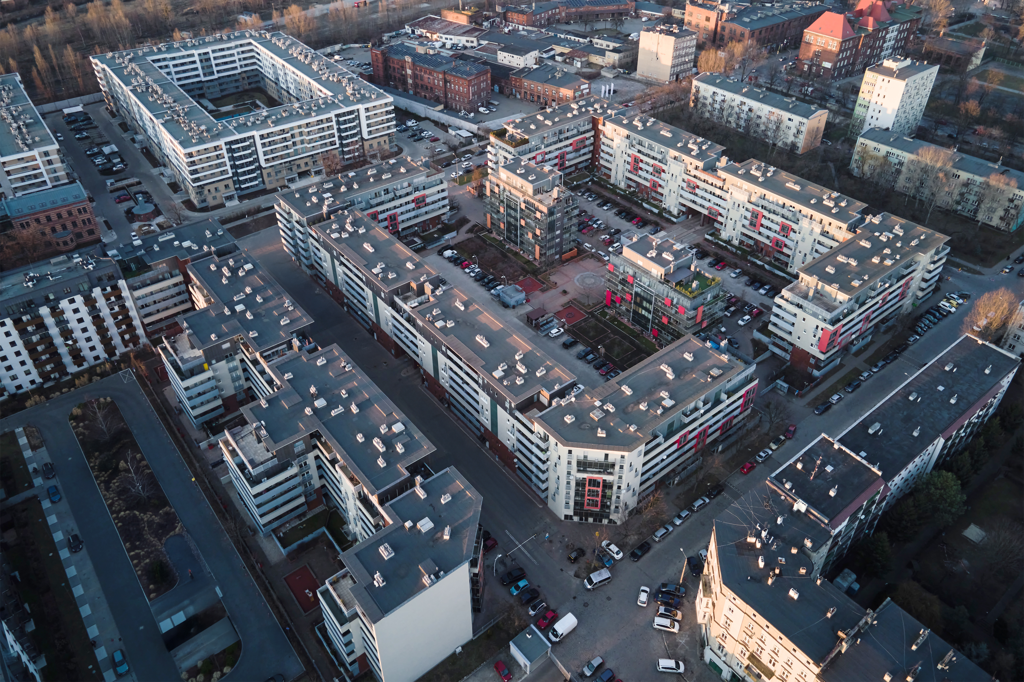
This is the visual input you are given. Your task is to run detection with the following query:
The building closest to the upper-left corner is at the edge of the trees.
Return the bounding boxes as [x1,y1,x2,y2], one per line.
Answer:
[0,72,68,192]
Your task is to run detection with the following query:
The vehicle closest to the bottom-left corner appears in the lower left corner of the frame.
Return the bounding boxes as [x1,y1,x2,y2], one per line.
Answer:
[112,650,131,677]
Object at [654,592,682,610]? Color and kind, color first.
black car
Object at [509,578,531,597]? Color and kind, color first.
blue car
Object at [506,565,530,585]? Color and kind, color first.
black car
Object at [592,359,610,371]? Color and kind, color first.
black vehicle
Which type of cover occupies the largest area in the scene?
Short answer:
buildings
